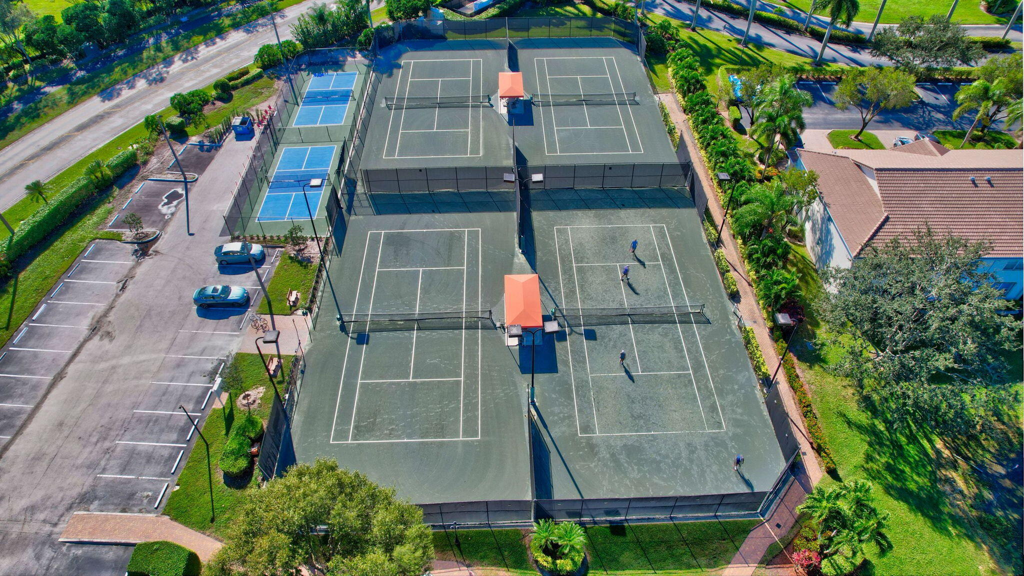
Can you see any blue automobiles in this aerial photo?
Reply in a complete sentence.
Yes, a blue automobile is visible in the scene.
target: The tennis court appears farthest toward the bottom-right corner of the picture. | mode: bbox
[515,187,787,521]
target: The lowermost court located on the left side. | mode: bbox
[274,191,534,526]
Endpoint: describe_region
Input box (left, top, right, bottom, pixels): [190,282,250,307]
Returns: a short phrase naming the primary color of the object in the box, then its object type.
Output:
blue car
